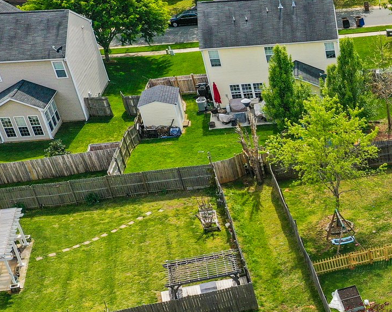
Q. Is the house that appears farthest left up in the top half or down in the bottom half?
top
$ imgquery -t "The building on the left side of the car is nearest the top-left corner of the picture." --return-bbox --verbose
[0,6,110,140]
